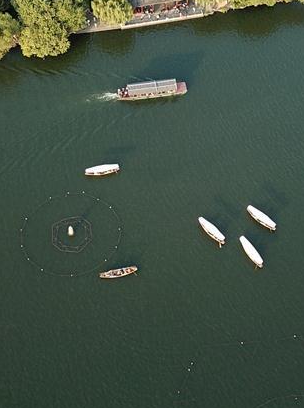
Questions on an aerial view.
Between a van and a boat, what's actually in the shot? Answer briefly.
boat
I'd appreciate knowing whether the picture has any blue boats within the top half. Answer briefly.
No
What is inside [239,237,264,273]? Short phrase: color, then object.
white boat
